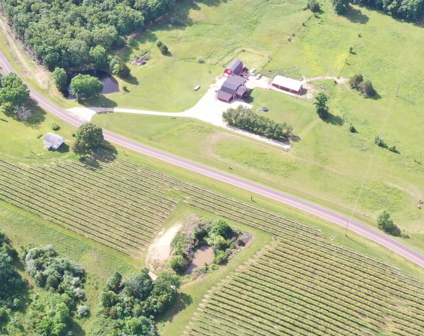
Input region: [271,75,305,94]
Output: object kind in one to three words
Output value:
shed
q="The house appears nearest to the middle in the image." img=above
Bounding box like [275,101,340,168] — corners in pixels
[217,76,248,102]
